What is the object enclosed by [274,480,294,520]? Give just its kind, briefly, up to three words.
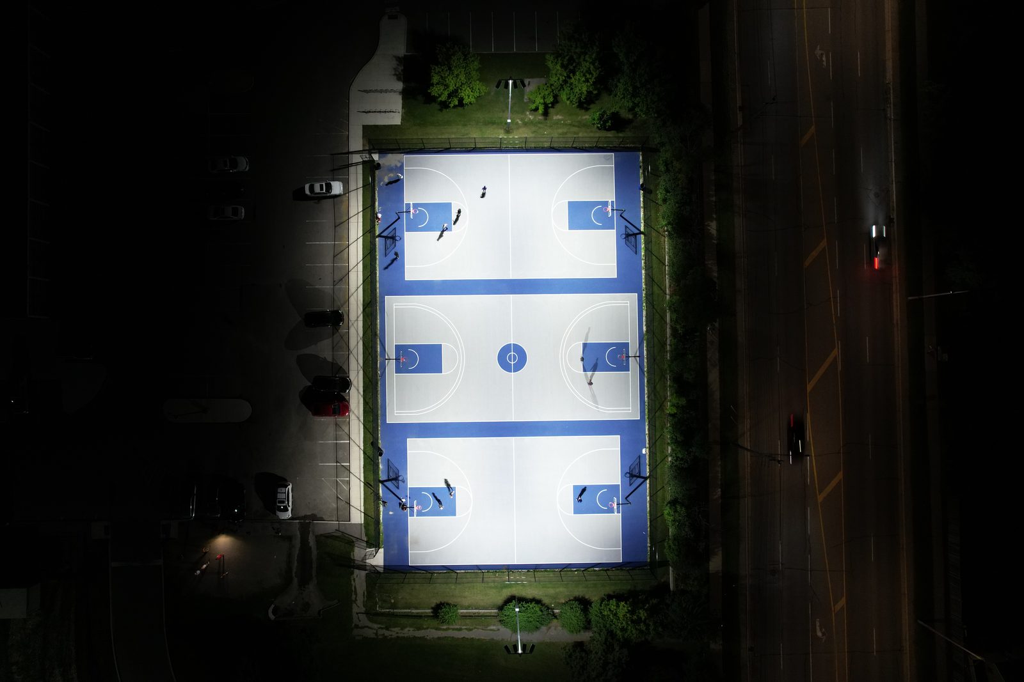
car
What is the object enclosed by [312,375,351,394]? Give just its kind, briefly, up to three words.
car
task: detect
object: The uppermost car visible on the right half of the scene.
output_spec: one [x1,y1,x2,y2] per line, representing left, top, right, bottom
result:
[867,227,888,264]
